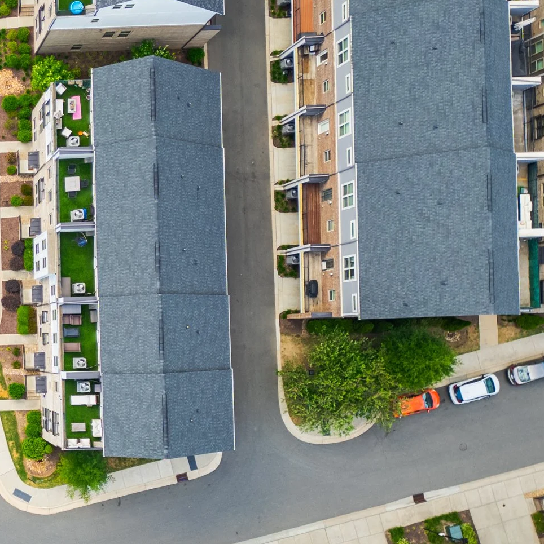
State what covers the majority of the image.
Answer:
buildings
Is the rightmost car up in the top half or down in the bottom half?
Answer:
bottom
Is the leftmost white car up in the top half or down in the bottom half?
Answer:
bottom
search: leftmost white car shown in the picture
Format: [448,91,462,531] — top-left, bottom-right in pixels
[447,374,500,404]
